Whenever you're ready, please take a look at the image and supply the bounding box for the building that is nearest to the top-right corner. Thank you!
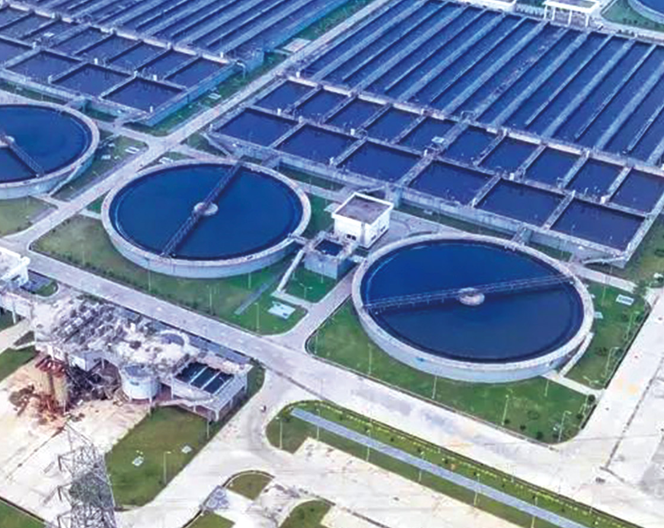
[540,0,600,32]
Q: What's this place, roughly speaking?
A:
industrial area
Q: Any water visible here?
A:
Yes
